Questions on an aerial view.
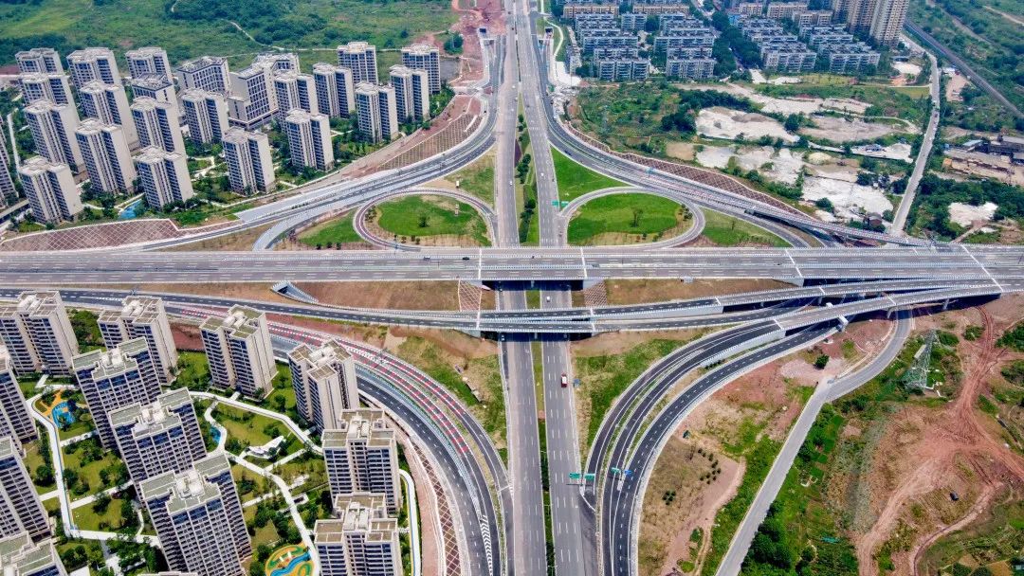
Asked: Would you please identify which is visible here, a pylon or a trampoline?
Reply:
pylon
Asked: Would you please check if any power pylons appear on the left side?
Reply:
No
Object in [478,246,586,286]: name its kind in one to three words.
overpass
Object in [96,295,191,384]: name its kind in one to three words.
building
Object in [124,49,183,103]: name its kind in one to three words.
building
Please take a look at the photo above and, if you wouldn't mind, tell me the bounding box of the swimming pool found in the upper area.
[118,198,146,218]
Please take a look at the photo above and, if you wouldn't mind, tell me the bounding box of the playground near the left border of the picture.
[45,389,76,428]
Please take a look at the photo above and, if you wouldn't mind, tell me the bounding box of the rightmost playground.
[264,543,315,576]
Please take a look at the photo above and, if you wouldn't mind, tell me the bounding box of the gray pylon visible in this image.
[897,328,942,393]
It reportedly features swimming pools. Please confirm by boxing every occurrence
[211,425,222,444]
[118,198,146,218]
